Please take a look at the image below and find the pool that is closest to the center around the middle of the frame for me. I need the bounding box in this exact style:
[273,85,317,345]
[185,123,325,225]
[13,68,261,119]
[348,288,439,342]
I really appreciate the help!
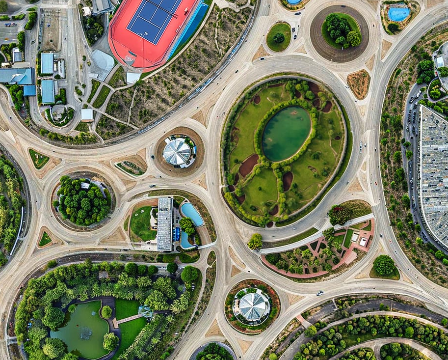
[181,202,205,227]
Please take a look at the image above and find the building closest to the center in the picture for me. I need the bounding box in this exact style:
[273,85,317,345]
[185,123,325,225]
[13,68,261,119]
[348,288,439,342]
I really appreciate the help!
[162,138,191,167]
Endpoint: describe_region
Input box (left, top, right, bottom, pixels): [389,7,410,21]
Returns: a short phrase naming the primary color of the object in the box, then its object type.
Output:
blue swimming pool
